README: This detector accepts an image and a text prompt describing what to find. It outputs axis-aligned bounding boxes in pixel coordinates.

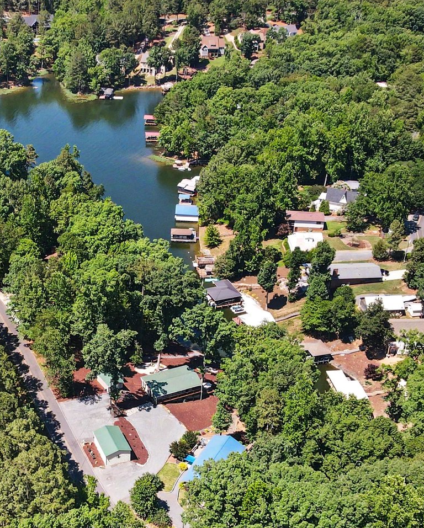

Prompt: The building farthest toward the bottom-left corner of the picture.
[93,426,131,467]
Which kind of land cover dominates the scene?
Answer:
trees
